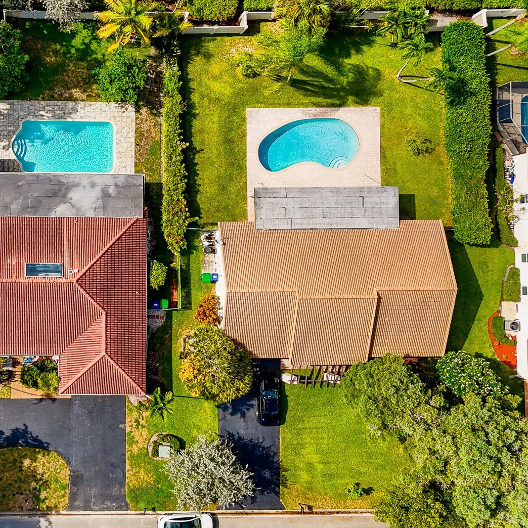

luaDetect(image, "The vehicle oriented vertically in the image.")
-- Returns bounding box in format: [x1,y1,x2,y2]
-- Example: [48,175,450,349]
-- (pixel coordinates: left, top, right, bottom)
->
[258,369,286,429]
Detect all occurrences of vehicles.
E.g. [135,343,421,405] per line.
[258,369,286,429]
[159,514,215,528]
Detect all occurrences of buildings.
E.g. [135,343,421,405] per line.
[515,147,528,389]
[215,186,459,367]
[0,173,148,395]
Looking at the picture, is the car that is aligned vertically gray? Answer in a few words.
No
